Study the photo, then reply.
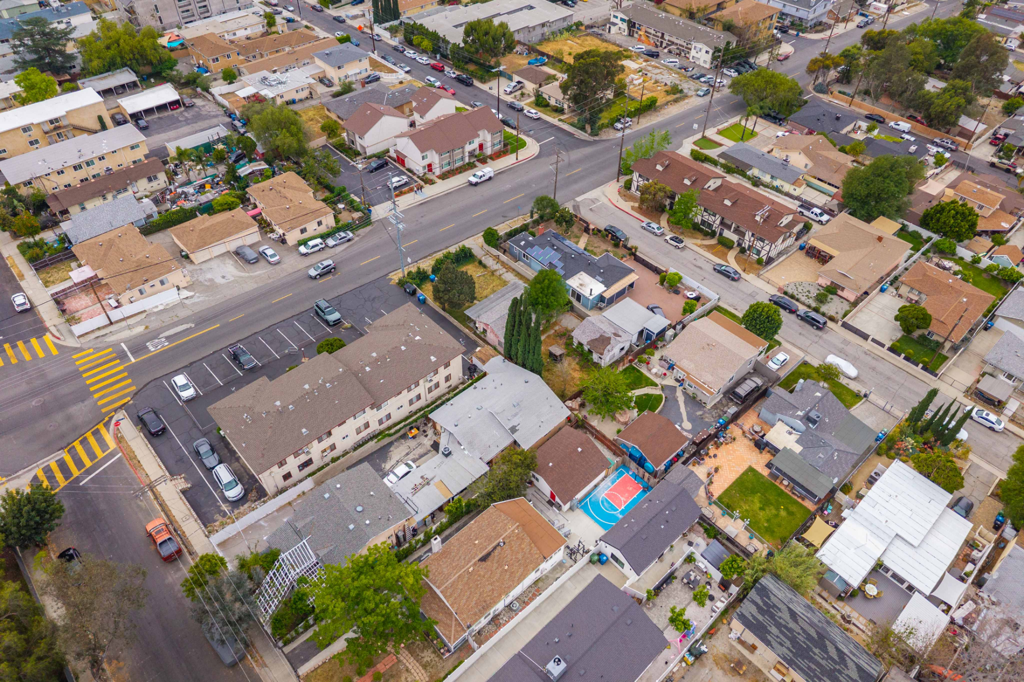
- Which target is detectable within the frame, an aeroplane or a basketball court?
basketball court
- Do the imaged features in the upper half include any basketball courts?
No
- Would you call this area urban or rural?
urban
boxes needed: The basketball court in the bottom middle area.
[579,465,651,531]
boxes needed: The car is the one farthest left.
[10,292,31,314]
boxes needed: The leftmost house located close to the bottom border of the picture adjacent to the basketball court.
[420,499,568,651]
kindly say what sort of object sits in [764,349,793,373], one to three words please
car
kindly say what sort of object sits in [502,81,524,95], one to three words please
vehicle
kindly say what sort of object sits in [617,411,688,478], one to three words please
building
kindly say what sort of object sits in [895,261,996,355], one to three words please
house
